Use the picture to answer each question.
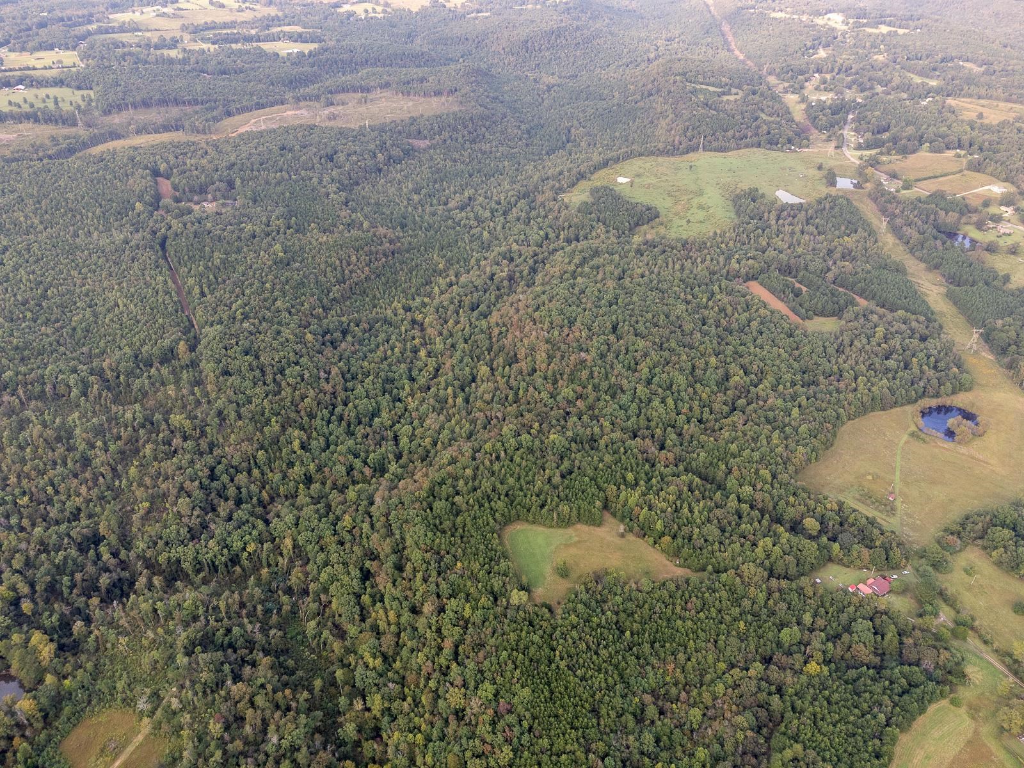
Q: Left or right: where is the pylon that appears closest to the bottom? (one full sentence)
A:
The pylon that appears closest to the bottom is on the right side of the image.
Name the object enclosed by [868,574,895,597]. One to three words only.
house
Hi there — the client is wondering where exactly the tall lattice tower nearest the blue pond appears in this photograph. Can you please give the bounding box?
[966,324,989,354]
